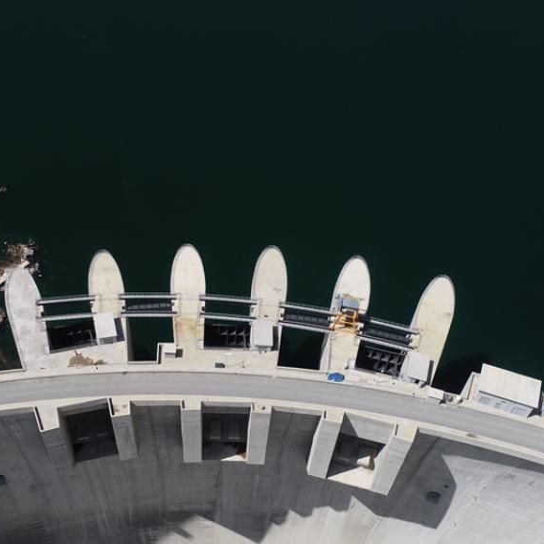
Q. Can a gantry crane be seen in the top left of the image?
No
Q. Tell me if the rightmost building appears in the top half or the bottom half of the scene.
bottom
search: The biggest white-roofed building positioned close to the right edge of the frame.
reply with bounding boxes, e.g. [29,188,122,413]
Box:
[476,363,542,417]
